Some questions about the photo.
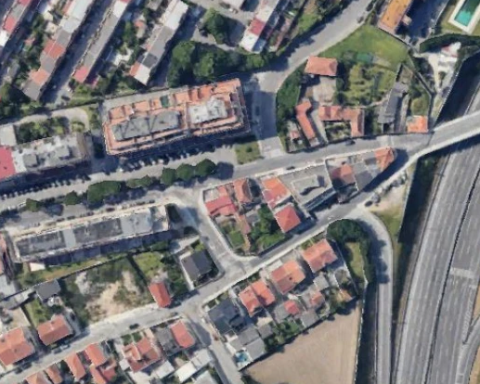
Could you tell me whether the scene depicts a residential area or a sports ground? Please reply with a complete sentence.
It's a residential area.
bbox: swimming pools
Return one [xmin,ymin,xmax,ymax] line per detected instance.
[446,0,480,31]
[236,350,250,364]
